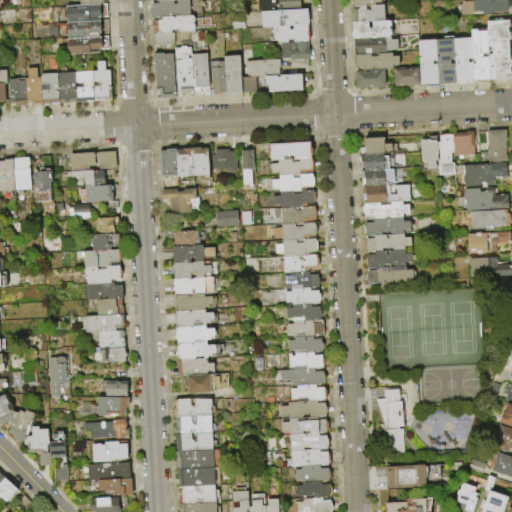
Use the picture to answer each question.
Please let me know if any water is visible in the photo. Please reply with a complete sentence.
No, no water is visible.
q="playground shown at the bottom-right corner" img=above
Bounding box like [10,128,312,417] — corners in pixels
[412,412,474,450]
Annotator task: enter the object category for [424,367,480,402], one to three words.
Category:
basketball court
